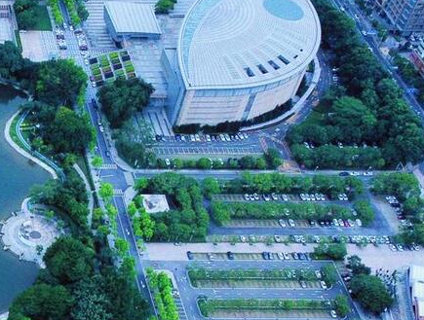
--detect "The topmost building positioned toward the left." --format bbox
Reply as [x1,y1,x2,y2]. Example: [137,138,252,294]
[104,0,162,48]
